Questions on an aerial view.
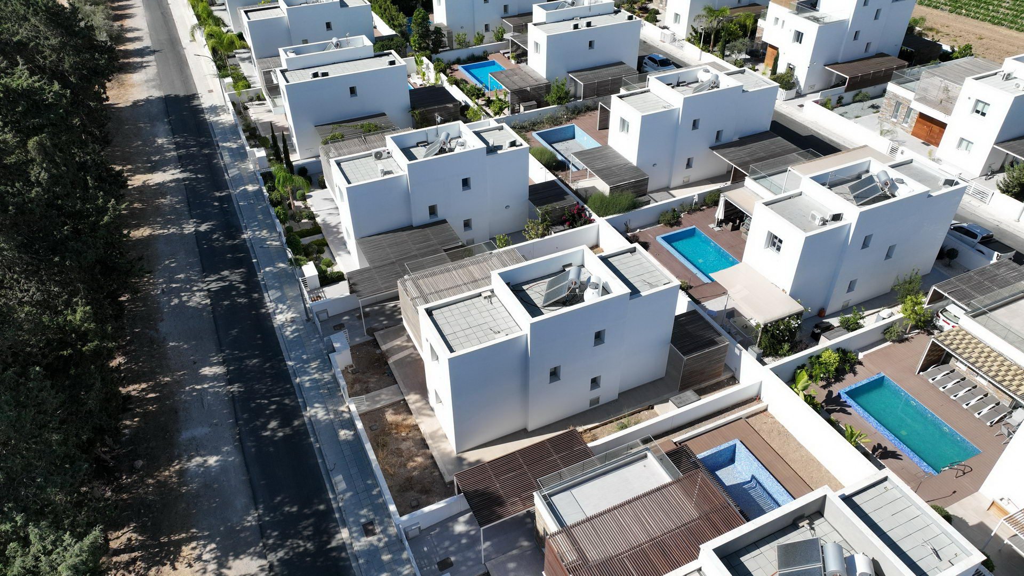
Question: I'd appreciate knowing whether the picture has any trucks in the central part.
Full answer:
No, looking in the central part, there is no truck.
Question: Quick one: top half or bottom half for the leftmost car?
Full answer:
The leftmost car is in the top half of the image.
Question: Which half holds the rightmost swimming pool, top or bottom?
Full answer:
It is in the bottom half that the rightmost swimming pool appears.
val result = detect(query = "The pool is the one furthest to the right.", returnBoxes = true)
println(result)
[840,371,985,474]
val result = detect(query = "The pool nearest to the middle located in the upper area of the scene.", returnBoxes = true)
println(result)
[534,123,599,169]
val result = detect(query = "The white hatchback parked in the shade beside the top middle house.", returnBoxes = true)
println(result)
[637,50,668,72]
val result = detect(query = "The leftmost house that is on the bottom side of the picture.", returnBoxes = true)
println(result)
[397,240,682,452]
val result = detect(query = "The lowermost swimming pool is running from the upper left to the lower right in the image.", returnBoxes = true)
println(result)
[698,438,795,518]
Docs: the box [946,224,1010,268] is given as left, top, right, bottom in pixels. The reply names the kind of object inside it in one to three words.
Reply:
truck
